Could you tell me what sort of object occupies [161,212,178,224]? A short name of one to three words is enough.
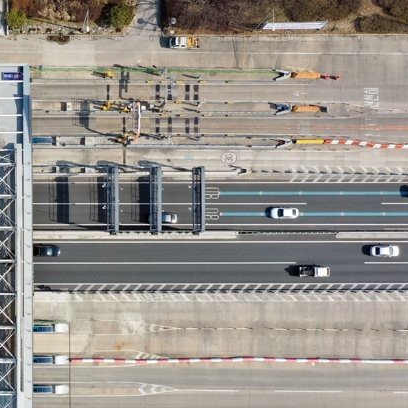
vehicle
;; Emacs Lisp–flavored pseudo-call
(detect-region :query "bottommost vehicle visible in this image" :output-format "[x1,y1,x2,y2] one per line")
[299,264,330,278]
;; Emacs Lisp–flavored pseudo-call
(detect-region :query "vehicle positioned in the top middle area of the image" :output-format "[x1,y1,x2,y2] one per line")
[170,34,200,49]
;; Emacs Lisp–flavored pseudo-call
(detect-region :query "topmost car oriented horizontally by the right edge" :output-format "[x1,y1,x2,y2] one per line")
[369,244,398,258]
